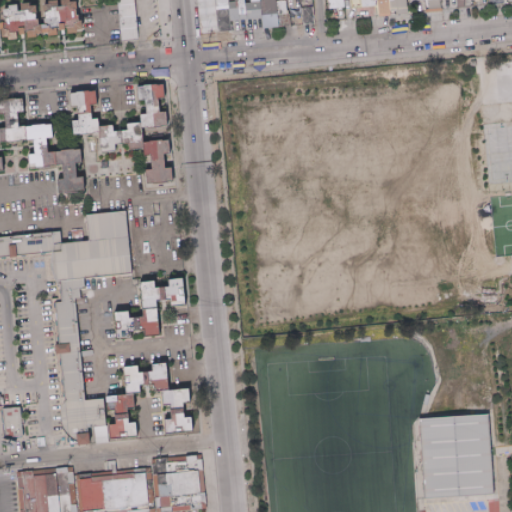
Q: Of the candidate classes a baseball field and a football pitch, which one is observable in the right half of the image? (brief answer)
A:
football pitch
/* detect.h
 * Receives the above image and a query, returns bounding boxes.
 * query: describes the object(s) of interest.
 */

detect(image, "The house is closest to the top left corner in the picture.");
[0,2,38,40]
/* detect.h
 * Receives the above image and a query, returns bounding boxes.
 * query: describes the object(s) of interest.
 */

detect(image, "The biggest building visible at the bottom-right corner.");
[420,415,495,498]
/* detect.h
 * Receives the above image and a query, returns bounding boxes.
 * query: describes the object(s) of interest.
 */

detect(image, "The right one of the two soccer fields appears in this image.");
[491,196,512,257]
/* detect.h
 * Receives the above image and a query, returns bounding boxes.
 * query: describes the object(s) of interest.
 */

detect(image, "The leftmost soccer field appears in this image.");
[256,338,435,512]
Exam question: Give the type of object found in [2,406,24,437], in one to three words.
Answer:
building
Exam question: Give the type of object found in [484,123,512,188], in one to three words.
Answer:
basketball court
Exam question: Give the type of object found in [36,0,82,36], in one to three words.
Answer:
house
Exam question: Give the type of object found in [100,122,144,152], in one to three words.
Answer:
house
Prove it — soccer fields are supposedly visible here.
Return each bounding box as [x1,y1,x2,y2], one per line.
[256,338,435,512]
[491,196,512,257]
